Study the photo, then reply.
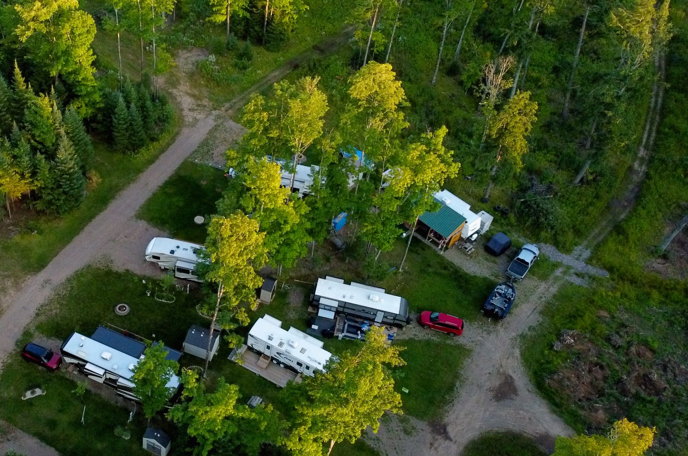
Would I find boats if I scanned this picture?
Yes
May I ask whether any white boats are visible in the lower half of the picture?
No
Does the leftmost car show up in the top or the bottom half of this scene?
bottom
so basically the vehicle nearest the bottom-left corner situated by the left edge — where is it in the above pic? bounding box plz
[20,339,66,373]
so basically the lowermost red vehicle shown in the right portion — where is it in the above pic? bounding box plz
[417,309,468,338]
